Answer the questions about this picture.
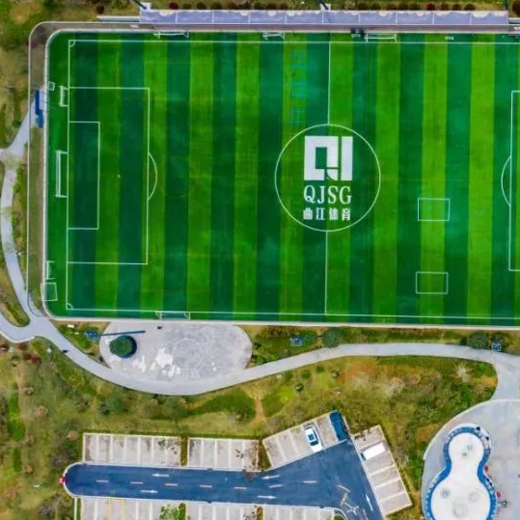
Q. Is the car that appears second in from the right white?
No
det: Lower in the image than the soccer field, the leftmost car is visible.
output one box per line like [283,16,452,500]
[302,423,322,452]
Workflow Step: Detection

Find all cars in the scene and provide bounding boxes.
[328,411,348,440]
[358,442,388,461]
[302,423,322,452]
